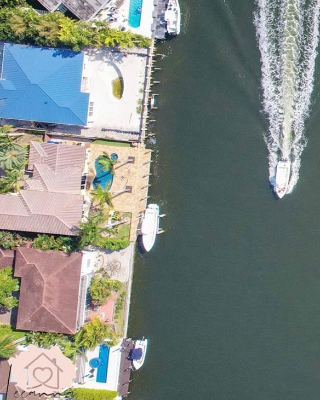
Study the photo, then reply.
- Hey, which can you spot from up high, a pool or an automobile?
pool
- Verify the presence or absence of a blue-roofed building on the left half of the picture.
Yes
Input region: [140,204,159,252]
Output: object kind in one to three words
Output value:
boat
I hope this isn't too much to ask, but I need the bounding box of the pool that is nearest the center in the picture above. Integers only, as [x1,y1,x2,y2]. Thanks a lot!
[92,152,118,192]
